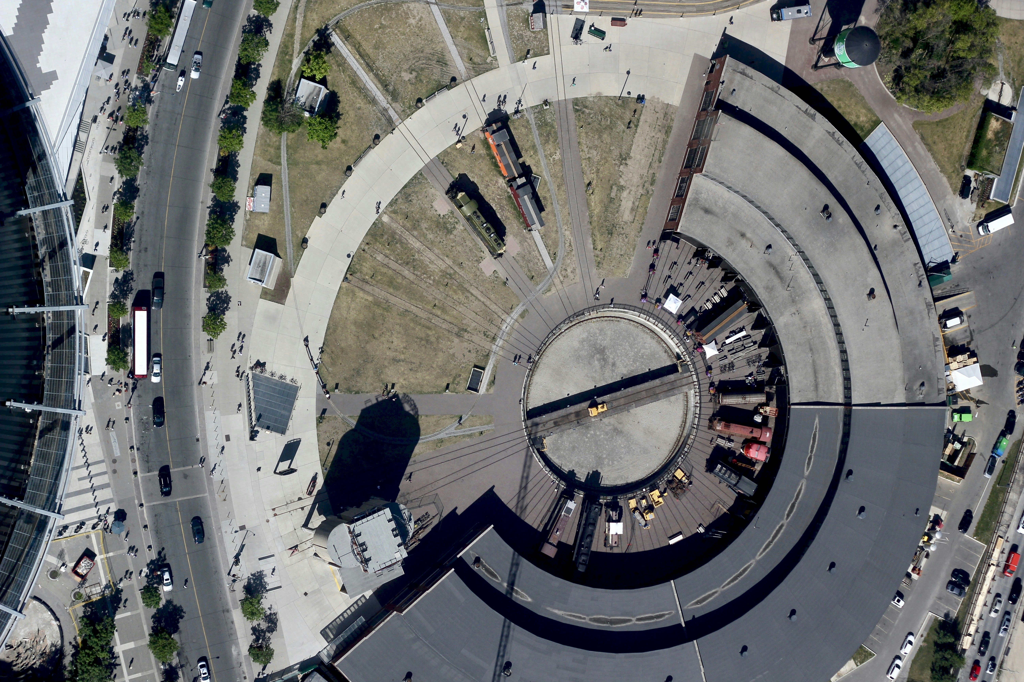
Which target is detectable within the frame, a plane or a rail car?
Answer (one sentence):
The image shows a rail car.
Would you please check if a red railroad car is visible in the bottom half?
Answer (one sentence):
Yes, a red railroad car shows up in the bottom half.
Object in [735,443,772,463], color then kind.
red rail car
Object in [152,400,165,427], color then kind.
black vehicle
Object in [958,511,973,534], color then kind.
black car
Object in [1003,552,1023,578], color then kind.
red vehicle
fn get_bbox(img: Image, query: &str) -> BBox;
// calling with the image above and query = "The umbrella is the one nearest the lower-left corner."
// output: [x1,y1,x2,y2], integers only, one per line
[111,520,125,536]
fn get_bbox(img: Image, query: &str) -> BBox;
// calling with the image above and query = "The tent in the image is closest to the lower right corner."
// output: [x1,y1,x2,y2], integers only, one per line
[949,363,983,392]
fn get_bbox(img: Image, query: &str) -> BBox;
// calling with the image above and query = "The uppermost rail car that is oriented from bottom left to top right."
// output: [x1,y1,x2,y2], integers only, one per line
[680,299,748,352]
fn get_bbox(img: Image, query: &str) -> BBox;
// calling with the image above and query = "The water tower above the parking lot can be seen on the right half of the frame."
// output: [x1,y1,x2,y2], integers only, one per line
[809,26,882,71]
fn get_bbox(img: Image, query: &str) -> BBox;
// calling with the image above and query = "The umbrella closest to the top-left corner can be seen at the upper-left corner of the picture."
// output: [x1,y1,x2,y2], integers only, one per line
[91,56,114,80]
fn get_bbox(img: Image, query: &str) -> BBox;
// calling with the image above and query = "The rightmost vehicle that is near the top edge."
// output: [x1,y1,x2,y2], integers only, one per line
[767,5,811,23]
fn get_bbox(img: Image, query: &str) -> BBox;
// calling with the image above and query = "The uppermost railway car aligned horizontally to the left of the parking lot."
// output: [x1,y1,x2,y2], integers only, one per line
[704,391,766,406]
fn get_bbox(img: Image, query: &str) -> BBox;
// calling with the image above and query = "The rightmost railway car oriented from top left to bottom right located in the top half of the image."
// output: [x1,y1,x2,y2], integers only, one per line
[446,186,507,259]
